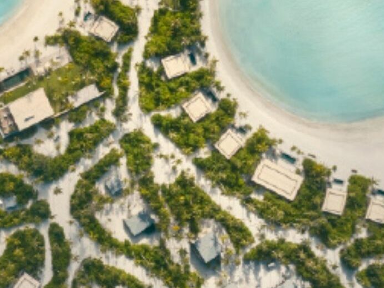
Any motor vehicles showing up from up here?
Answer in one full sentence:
No, there's no motor vehicle here.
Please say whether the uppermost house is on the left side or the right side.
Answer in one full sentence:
The uppermost house is on the left side of the image.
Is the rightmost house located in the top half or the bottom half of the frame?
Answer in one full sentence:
It is in the bottom half that the rightmost house appears.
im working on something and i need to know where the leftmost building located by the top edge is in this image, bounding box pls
[77,8,117,42]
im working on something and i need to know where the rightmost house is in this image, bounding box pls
[361,185,384,224]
